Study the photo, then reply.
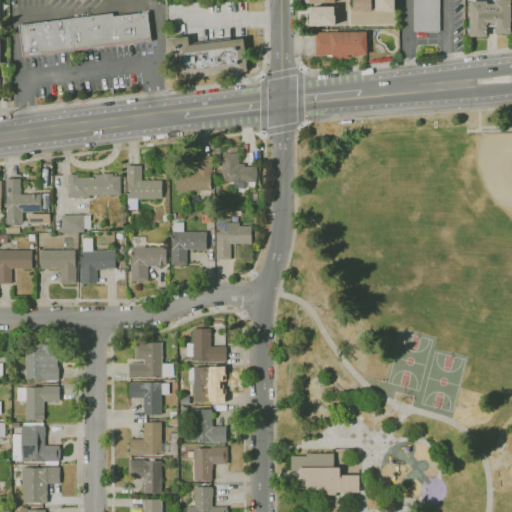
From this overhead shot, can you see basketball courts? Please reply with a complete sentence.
Yes, looking at the shot, I can spot a basketball court.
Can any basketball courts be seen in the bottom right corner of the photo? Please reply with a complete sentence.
Yes, looking in the bottom right corner of the photo, one can make out a basketball court.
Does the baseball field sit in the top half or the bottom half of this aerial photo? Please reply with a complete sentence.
The baseball field sits in the top half of the picture.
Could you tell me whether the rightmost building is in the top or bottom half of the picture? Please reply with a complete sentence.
The rightmost building sits in the top half of the picture.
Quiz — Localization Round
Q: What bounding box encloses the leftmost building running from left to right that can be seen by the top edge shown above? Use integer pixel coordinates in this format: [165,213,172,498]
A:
[18,10,152,57]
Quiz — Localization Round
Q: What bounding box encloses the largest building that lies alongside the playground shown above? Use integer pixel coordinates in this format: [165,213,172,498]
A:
[292,454,360,496]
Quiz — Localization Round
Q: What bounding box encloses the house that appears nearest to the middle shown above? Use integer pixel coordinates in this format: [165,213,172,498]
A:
[216,216,252,259]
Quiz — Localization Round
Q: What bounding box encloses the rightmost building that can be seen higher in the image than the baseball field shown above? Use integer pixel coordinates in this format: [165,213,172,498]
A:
[468,1,512,37]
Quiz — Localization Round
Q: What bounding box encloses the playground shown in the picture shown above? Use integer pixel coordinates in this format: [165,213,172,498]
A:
[384,442,447,502]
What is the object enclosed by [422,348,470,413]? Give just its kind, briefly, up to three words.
basketball court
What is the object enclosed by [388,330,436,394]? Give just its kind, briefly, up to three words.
basketball court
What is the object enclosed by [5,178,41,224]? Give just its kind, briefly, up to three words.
house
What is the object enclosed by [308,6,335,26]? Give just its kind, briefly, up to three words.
building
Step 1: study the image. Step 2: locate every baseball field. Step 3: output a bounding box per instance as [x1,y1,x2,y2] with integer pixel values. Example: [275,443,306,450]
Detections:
[478,132,512,208]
